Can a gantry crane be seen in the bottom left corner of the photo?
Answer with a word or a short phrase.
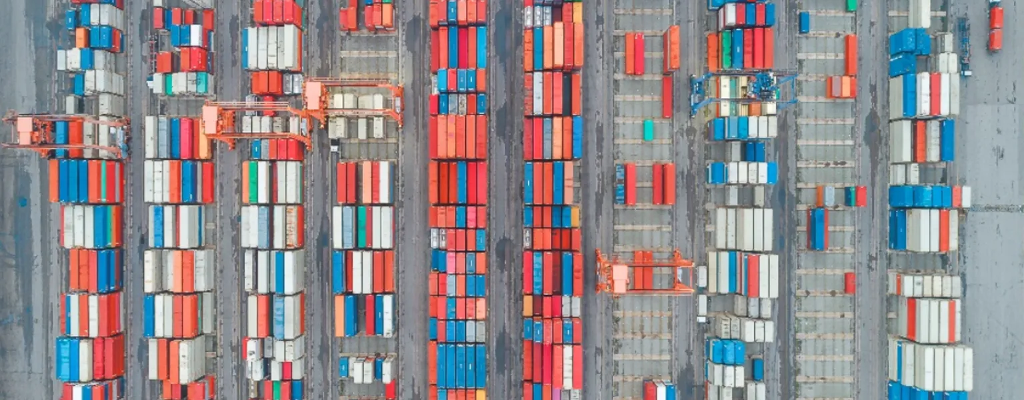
No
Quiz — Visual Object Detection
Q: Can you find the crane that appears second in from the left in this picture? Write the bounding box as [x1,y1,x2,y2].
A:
[201,101,312,150]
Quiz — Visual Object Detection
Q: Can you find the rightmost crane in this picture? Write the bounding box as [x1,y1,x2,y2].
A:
[689,67,799,118]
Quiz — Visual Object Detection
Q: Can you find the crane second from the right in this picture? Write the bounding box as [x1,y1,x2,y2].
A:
[594,249,694,298]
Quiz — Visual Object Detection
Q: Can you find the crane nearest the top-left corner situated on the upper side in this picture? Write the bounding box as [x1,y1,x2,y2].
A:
[0,112,129,160]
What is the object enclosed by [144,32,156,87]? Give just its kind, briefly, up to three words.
vehicle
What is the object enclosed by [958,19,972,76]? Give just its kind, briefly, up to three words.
vehicle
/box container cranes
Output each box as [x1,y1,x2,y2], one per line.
[301,78,405,129]
[201,101,312,150]
[594,249,694,298]
[0,112,129,160]
[689,67,799,118]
